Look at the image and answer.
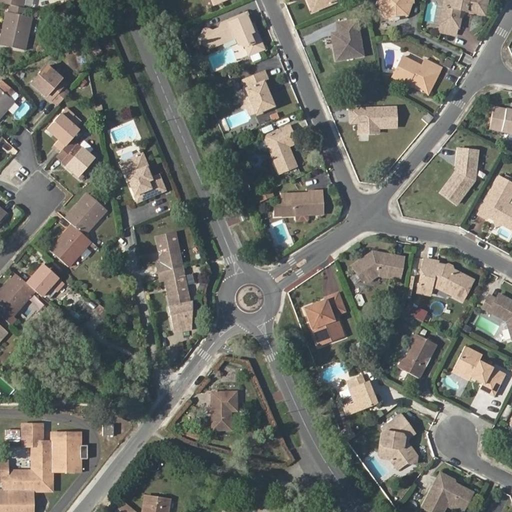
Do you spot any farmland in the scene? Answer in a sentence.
No, there's no farmland in this view.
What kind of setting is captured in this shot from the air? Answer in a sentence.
The picture captures a residential area.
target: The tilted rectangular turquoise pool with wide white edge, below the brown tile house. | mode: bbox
[272,224,290,246]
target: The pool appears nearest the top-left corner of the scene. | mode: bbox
[14,101,30,120]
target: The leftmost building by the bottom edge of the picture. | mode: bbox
[0,423,82,512]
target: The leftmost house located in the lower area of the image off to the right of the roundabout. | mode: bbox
[302,292,347,348]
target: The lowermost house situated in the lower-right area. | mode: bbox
[420,472,476,512]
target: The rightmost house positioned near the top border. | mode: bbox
[439,0,489,37]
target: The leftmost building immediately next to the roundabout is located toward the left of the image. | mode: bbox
[154,231,194,334]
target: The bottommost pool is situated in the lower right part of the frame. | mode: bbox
[367,455,391,478]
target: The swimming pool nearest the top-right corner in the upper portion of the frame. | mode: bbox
[424,2,436,23]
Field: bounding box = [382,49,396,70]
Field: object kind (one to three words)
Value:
swimming pool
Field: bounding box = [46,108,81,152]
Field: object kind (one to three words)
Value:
house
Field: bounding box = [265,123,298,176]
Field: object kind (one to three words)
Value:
house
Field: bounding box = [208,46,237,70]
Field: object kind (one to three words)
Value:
swimming pool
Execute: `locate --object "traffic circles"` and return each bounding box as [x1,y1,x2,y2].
[218,268,281,330]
